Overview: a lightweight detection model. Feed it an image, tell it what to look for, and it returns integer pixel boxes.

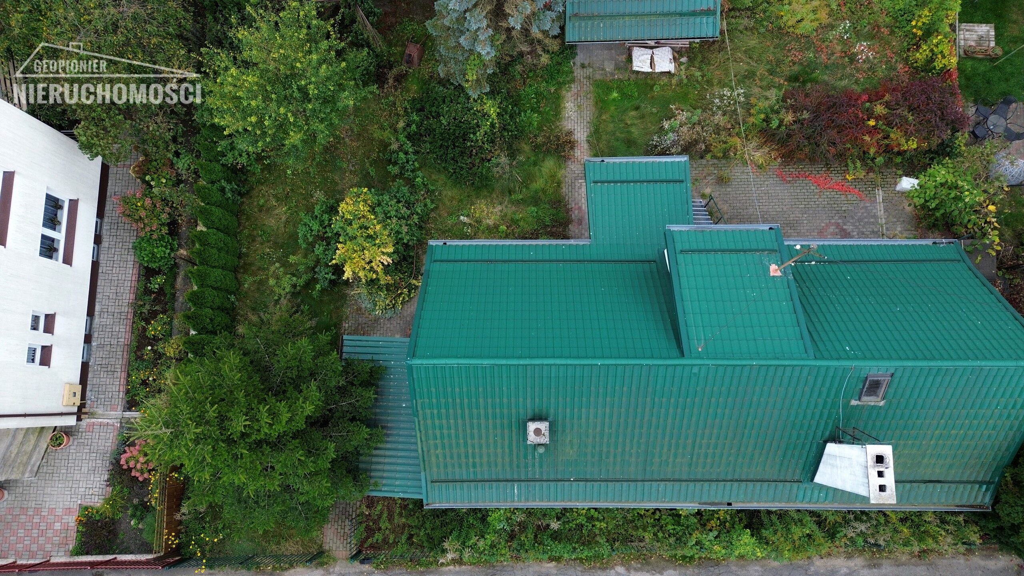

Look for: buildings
[567,0,722,45]
[405,155,1024,510]
[0,100,108,428]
